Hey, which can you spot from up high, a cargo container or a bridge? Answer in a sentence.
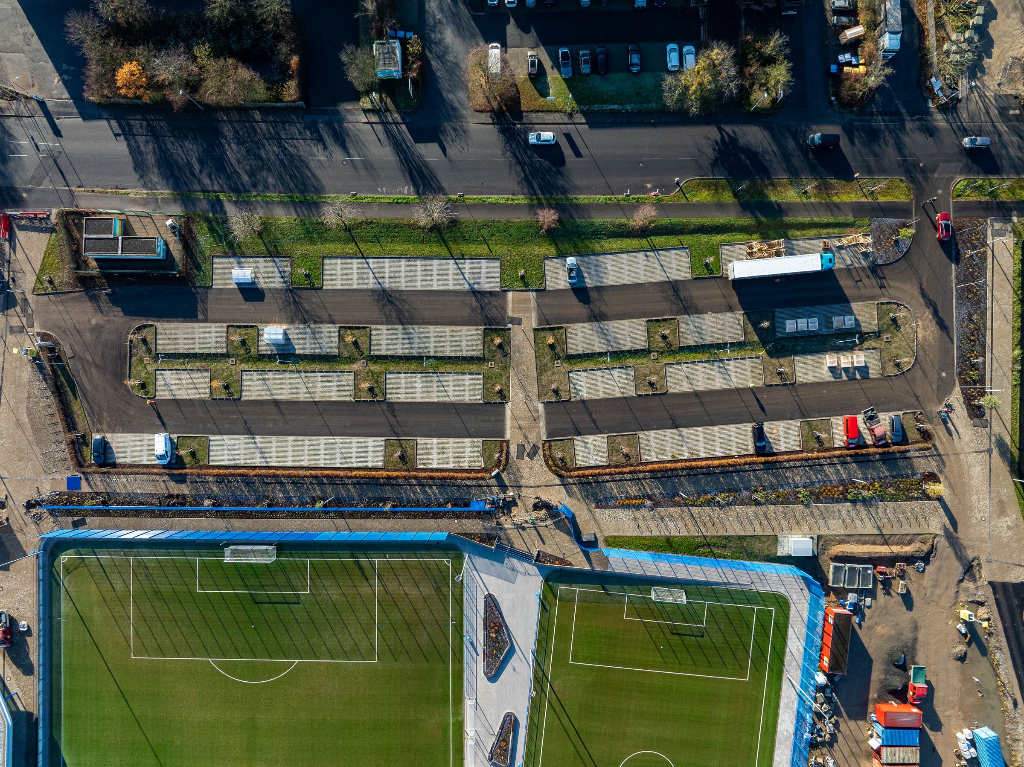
It is a cargo container that can be seen here.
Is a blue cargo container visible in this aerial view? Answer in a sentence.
Yes, a blue cargo container can be made out from above.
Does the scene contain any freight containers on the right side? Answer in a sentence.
Yes, a freight container appears on the right side.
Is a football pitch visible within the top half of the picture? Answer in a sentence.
No, looking within the top half of the picture, there is no football pitch.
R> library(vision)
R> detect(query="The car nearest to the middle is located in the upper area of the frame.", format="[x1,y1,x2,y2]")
[566,257,578,284]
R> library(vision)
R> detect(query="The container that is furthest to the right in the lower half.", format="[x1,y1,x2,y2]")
[973,726,1007,767]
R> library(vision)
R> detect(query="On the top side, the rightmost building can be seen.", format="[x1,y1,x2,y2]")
[373,39,402,81]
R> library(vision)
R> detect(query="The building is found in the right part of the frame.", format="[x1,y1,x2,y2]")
[788,536,812,556]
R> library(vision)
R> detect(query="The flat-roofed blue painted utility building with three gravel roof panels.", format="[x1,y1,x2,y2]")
[83,218,166,259]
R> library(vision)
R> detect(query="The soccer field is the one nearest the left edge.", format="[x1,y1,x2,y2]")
[50,541,464,767]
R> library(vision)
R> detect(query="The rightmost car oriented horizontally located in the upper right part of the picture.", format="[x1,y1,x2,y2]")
[961,135,992,149]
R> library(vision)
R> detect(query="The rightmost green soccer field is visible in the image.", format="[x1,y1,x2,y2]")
[523,578,789,767]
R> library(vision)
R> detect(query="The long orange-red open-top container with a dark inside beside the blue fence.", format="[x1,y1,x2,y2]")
[821,608,853,675]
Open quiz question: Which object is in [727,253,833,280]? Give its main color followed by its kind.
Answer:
white truck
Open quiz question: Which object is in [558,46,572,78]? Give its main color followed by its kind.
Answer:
blue car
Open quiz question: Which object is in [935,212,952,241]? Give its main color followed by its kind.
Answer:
red car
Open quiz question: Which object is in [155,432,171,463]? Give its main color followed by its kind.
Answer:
white vehicle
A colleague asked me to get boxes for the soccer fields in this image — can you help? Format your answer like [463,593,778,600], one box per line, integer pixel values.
[523,578,789,767]
[50,541,464,767]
